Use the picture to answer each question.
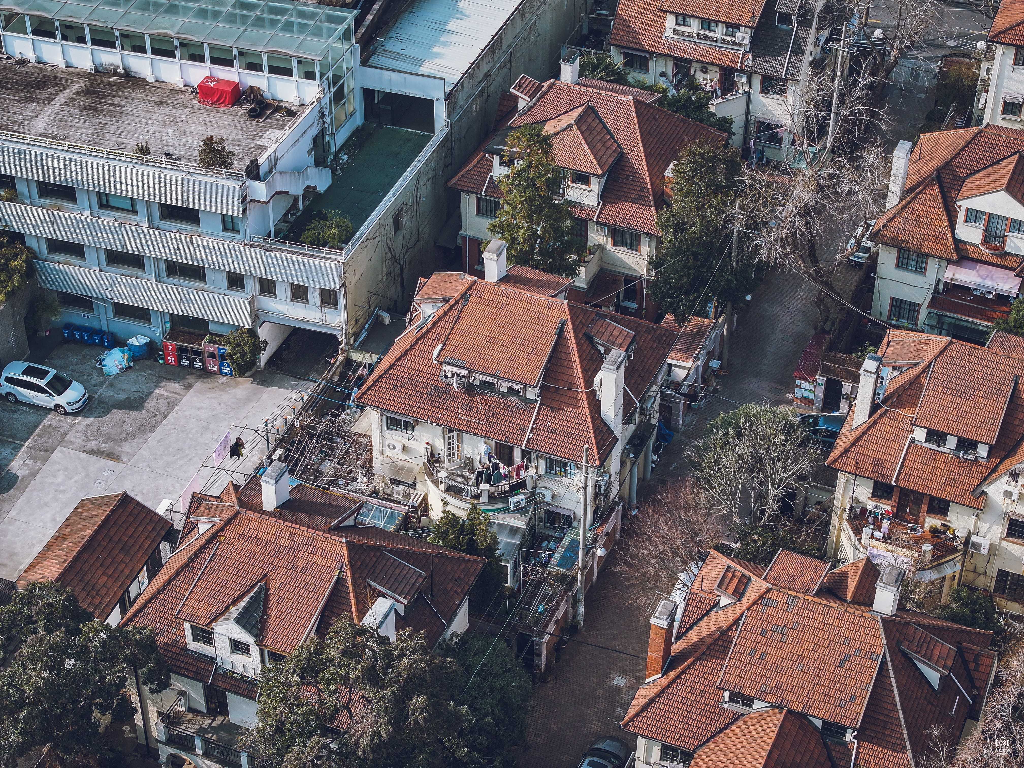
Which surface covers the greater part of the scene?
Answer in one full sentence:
The scene is dominated by buildings.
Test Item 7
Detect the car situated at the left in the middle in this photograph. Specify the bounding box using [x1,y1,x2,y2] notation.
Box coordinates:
[2,358,92,417]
